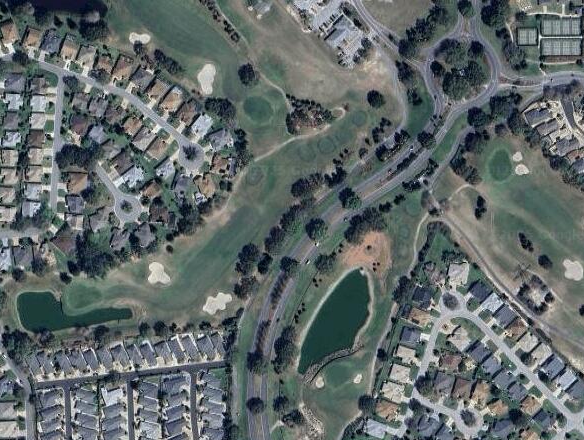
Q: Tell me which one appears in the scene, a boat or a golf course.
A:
golf course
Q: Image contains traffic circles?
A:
Yes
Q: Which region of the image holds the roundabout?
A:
top right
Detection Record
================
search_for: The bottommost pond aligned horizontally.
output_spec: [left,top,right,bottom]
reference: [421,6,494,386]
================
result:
[17,291,132,332]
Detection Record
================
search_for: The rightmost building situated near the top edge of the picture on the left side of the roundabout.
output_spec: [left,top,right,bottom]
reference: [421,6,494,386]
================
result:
[324,15,355,47]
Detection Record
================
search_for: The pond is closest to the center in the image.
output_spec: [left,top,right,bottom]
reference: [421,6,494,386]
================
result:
[298,268,369,374]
